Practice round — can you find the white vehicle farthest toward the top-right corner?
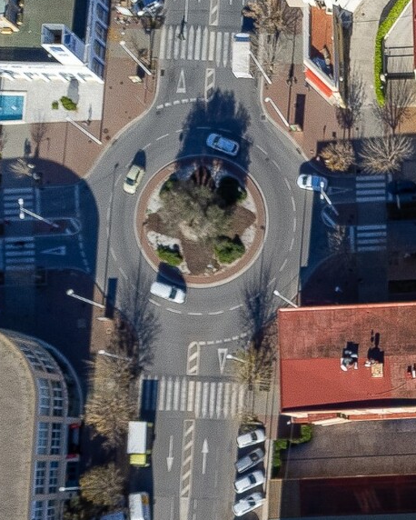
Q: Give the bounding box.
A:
[228,34,251,77]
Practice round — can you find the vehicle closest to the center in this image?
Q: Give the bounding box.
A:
[147,282,188,303]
